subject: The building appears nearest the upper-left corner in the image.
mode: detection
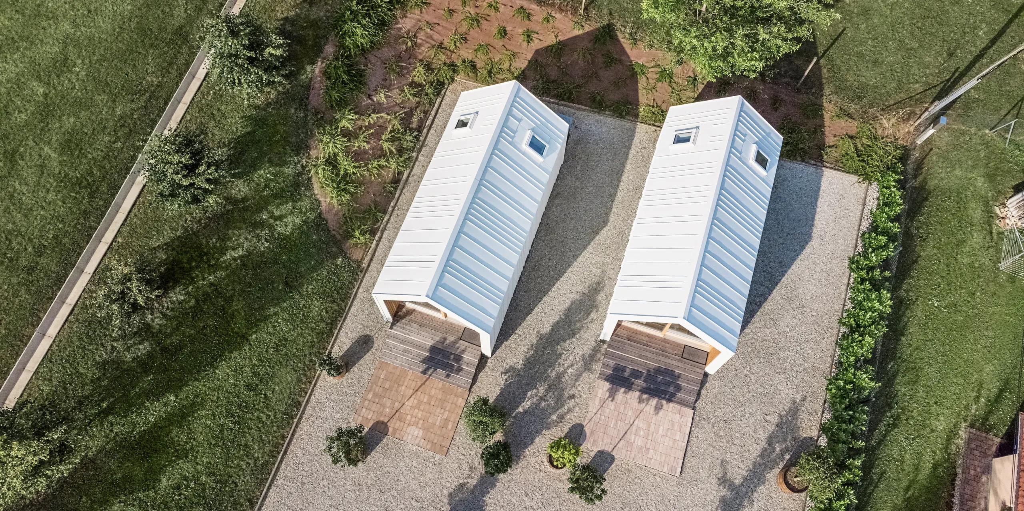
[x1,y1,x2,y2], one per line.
[371,79,568,359]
